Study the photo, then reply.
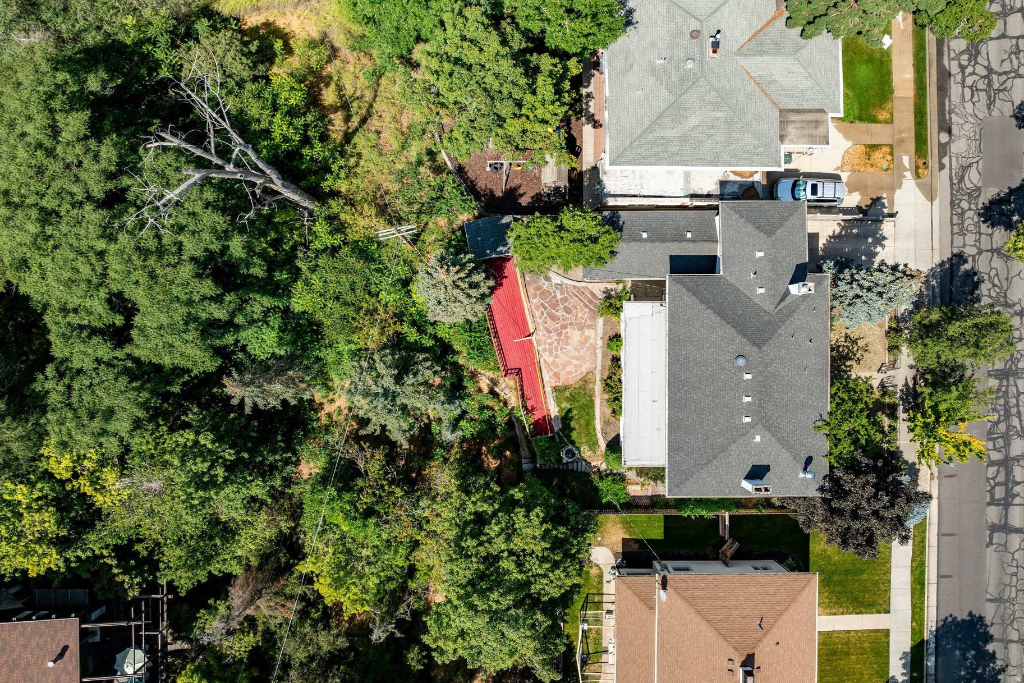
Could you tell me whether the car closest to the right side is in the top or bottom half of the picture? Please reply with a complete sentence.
It is in the top half that the car closest to the right side appears.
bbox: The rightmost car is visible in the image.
[772,174,845,208]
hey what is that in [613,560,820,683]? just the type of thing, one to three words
house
